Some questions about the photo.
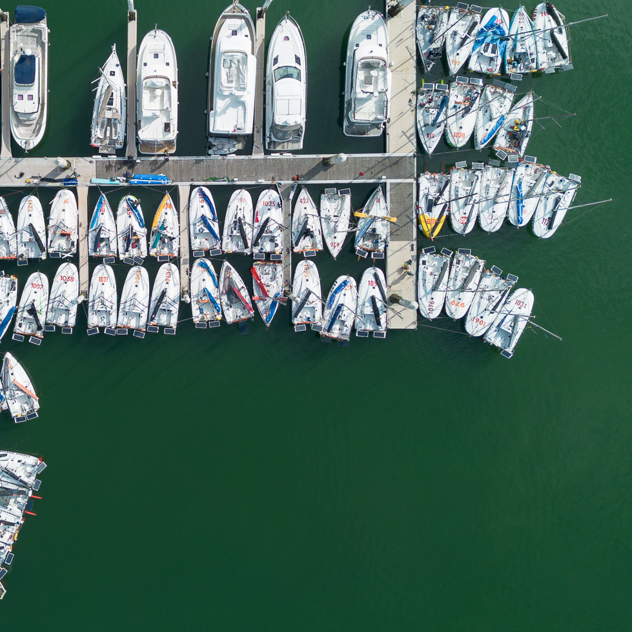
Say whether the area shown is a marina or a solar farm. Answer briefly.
marina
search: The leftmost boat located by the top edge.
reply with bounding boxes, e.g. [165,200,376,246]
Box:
[10,7,51,154]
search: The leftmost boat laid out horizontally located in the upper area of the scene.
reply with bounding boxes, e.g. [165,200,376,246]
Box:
[201,137,238,153]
